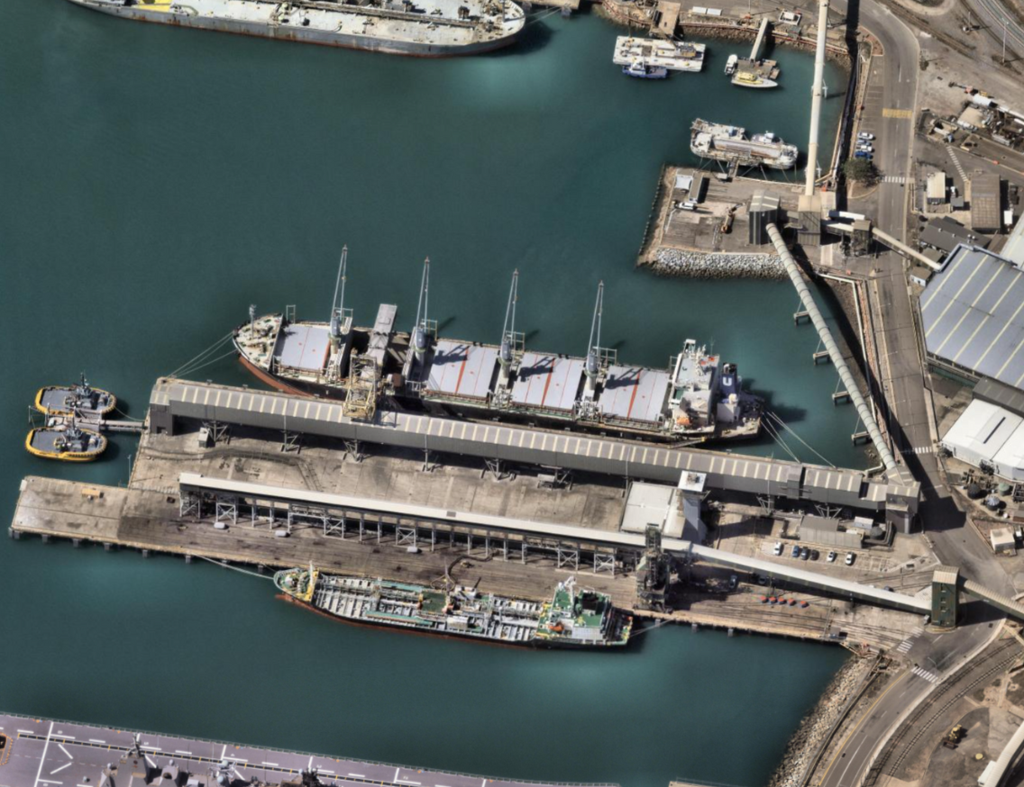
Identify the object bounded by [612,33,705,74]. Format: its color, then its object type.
white ship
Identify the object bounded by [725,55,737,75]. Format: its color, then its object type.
white boat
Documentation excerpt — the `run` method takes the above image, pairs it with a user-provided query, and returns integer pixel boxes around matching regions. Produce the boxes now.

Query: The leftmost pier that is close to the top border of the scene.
[521,0,580,20]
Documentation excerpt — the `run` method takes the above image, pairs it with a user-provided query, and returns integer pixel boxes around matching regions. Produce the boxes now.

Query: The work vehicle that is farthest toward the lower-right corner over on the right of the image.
[944,722,963,748]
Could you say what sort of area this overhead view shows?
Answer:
port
